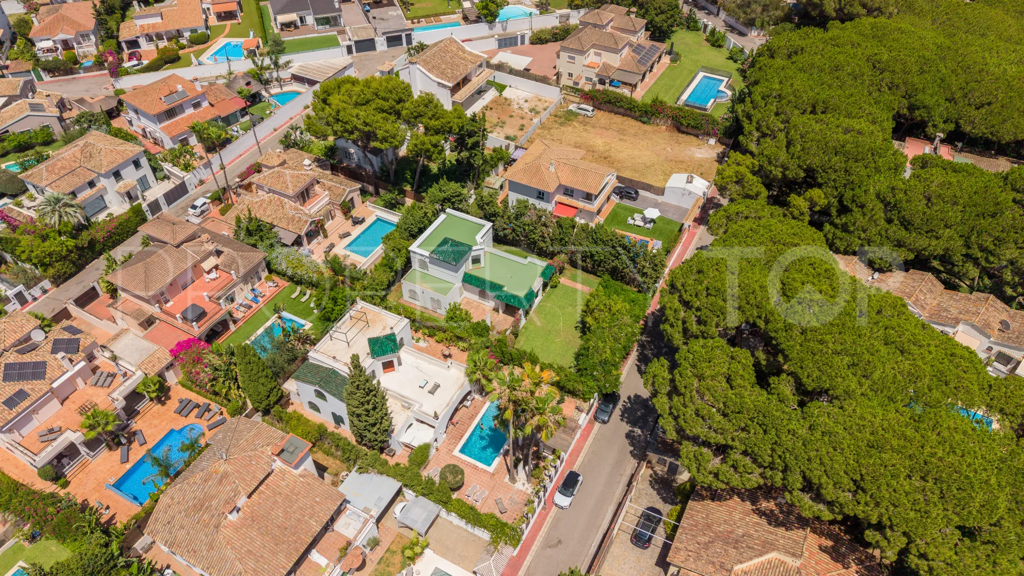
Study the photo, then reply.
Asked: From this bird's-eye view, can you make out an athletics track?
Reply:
No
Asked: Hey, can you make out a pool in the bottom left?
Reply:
Yes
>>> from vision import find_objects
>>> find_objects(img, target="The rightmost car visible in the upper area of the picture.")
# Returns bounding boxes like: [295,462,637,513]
[611,182,644,200]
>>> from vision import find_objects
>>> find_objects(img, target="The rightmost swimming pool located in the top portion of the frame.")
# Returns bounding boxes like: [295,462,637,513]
[681,72,733,111]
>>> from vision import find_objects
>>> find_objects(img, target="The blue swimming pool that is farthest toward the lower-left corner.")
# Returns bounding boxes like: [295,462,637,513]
[112,421,207,499]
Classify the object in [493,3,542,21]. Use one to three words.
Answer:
swimming pool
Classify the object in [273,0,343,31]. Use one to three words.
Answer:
house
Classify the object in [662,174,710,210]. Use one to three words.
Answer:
shed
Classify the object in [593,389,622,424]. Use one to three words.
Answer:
car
